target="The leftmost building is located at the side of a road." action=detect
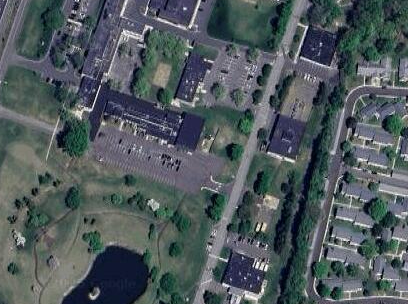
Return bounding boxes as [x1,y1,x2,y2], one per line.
[79,0,130,110]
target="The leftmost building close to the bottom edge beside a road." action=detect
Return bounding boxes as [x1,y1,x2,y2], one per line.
[222,249,266,294]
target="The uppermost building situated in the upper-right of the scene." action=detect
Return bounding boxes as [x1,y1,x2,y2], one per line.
[301,26,337,66]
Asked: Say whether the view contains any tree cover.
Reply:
Yes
